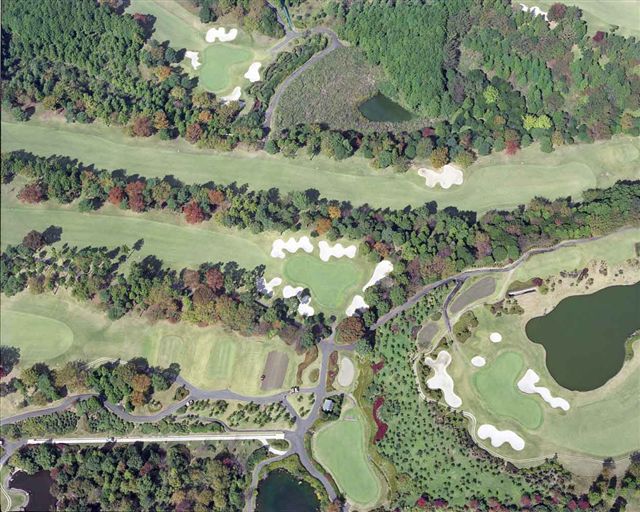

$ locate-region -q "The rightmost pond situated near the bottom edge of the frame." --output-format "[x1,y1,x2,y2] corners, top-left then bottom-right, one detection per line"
[256,468,320,512]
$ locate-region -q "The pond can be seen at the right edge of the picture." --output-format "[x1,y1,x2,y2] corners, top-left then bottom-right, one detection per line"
[525,282,640,392]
